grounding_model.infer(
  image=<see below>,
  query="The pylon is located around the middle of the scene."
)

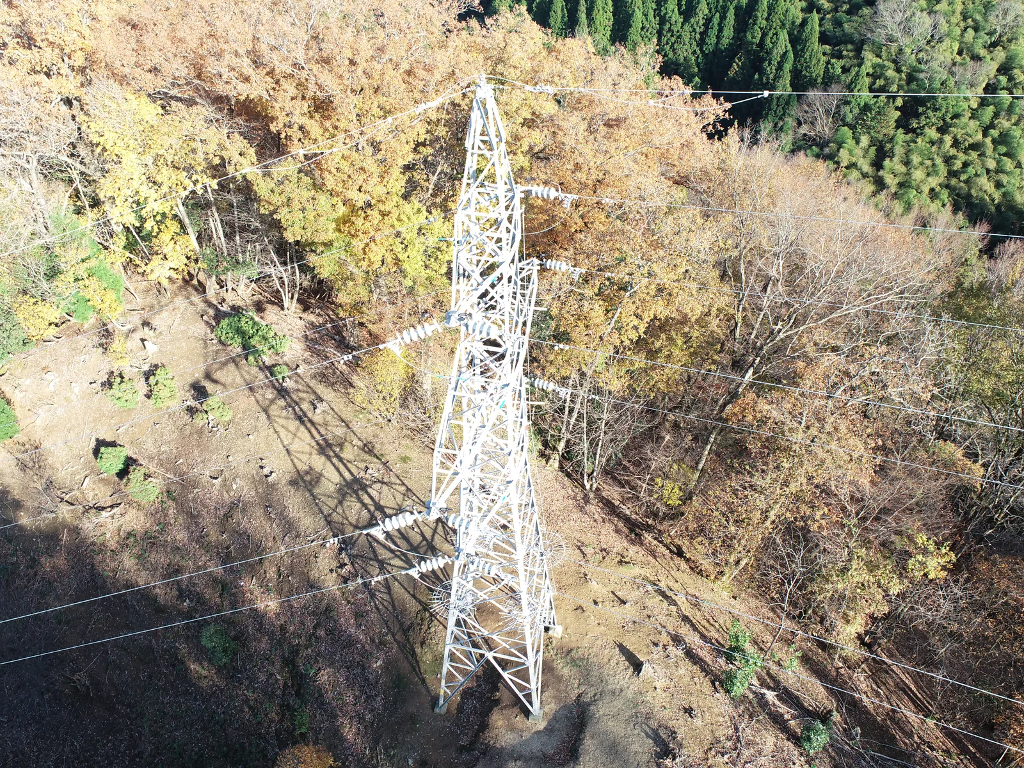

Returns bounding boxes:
[416,76,565,730]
